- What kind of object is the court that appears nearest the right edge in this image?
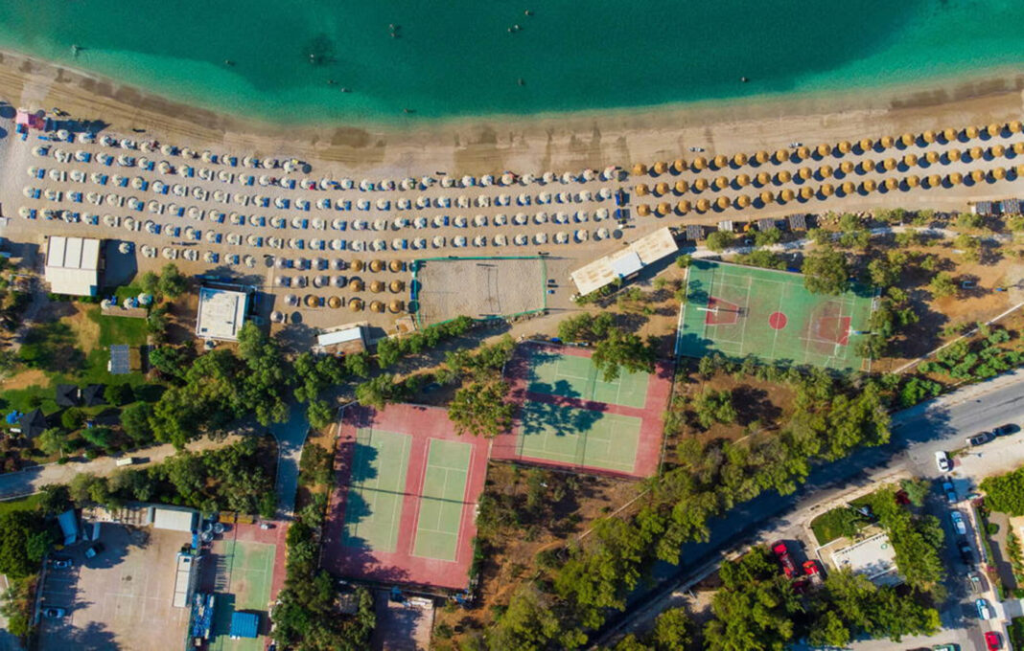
basketball court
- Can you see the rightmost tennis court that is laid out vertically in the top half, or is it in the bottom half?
bottom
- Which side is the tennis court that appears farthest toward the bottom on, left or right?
left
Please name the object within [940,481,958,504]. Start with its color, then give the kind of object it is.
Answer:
blue car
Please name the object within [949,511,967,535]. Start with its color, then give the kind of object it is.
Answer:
blue car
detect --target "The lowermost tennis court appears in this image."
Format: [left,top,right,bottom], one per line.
[190,521,287,651]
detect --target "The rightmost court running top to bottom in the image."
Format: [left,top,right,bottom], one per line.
[400,406,491,590]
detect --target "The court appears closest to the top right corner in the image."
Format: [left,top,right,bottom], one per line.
[677,259,874,376]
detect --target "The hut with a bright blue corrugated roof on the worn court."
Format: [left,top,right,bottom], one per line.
[230,608,263,639]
